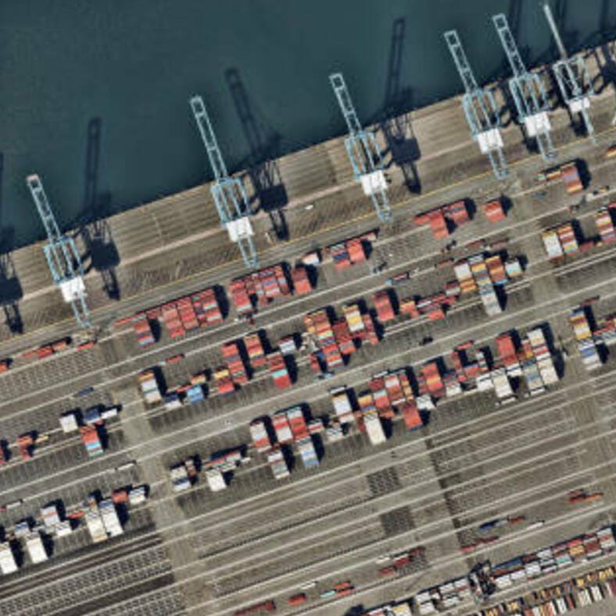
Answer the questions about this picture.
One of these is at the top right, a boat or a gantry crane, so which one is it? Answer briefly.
gantry crane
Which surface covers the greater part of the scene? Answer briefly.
buildings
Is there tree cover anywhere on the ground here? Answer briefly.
No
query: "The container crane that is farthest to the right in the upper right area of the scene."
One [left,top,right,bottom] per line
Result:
[542,4,597,148]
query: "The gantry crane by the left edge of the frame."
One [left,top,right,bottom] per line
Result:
[27,176,90,327]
